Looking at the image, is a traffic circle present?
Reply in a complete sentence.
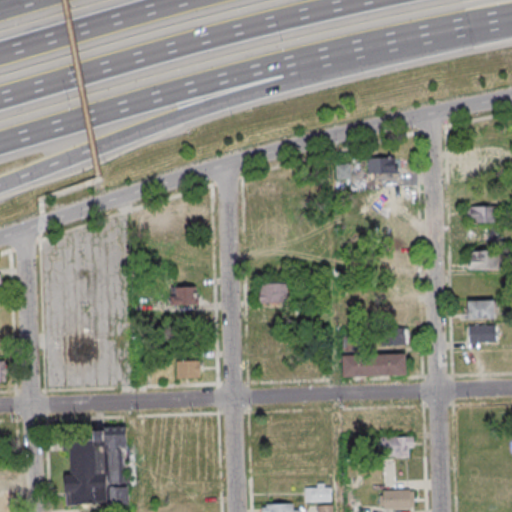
No, the photo shows no traffic circle.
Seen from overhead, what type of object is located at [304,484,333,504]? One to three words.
house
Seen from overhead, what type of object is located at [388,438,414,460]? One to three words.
house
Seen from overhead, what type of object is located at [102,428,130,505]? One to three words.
building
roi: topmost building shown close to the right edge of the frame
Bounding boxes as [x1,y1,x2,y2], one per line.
[469,206,494,223]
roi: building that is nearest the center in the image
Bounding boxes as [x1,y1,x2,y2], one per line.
[260,284,288,307]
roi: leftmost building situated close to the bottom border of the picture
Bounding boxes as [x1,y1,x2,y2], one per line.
[63,431,106,506]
